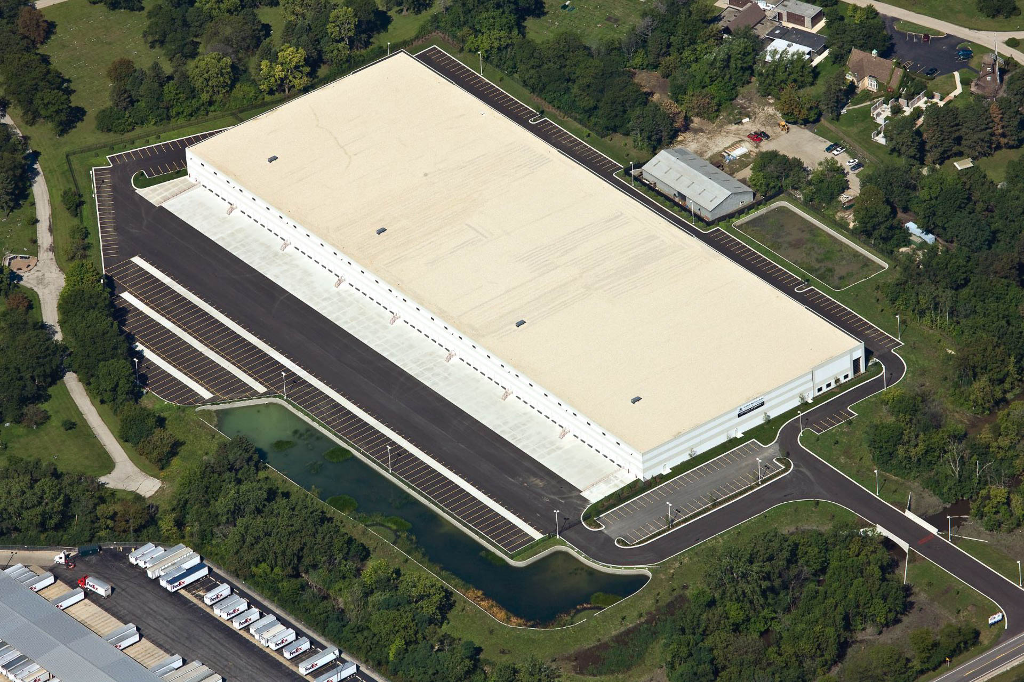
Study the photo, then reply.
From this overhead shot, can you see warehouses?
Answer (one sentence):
Yes, there's a warehouse down there.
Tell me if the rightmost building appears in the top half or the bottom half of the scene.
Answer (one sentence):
The rightmost building sits in the top half of the picture.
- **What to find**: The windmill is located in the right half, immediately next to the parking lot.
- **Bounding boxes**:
[969,33,1006,101]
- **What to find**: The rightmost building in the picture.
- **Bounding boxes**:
[903,221,934,245]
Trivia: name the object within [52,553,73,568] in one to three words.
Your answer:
vehicle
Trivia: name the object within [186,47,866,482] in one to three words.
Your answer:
warehouse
